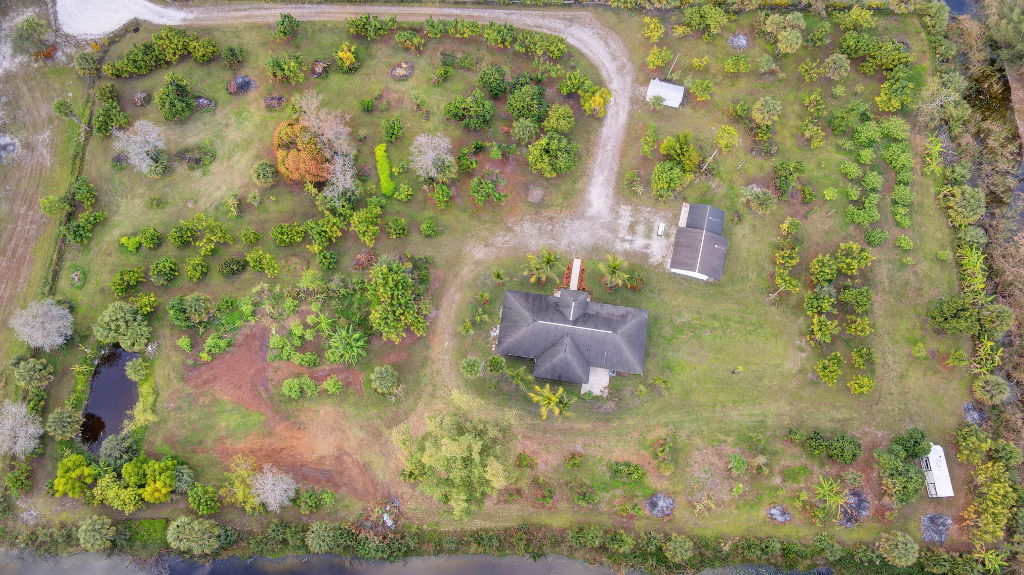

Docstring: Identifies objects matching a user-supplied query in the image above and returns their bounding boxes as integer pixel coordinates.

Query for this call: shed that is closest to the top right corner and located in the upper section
[646,79,684,108]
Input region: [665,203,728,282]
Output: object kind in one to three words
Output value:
building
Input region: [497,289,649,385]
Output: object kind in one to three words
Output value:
house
